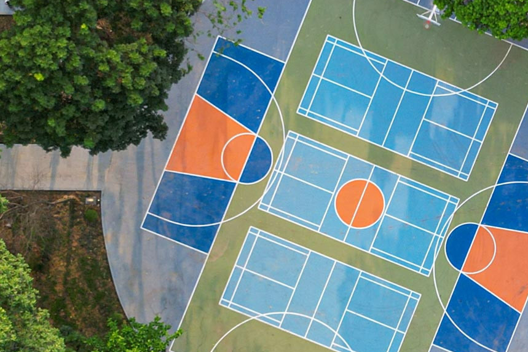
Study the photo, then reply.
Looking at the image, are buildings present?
No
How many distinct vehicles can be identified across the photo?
0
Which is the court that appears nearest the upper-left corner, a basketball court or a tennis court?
basketball court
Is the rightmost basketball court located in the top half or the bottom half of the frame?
bottom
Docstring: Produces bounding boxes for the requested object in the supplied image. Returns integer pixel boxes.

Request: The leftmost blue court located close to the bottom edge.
[219,226,422,352]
